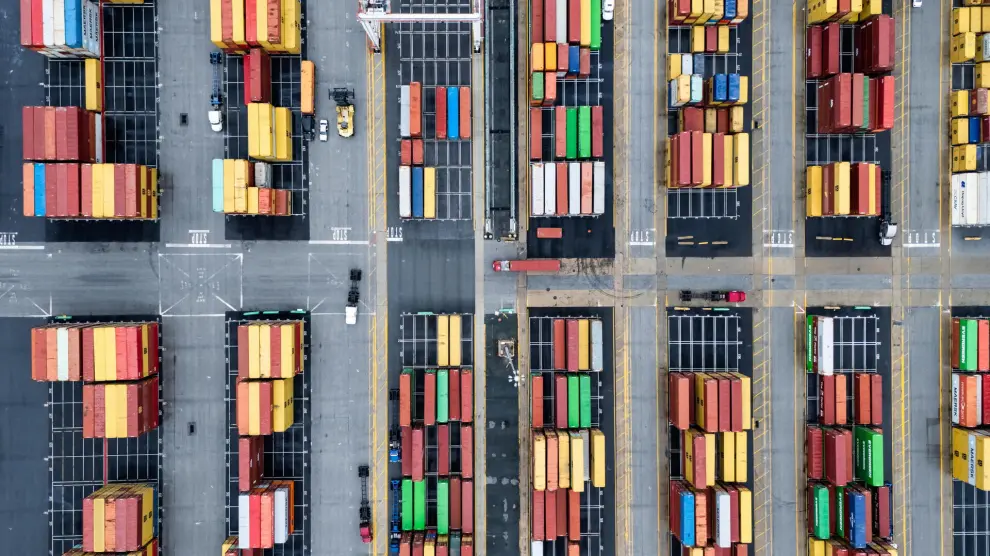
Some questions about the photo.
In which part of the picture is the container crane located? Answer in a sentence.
The container crane sits in the top section of the image.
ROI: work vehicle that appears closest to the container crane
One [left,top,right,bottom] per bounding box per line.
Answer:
[328,89,355,136]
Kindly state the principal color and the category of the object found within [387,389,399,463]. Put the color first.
blue vehicle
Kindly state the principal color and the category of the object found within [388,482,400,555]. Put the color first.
blue vehicle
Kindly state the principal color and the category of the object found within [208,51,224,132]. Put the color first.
white vehicle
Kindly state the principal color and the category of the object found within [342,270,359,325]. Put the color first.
white vehicle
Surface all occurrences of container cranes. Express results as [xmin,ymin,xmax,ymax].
[356,0,485,52]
